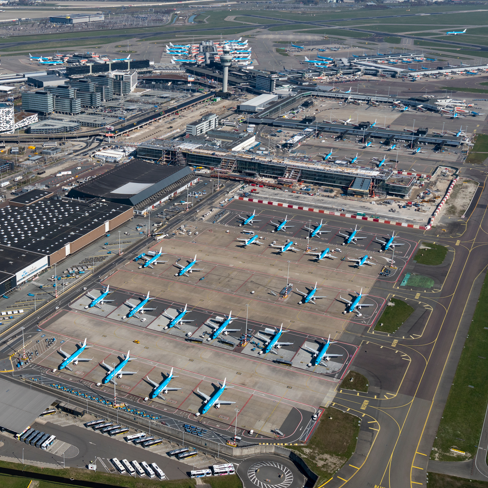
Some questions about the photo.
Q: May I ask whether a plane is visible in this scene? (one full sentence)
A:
Yes, this view includes a plane.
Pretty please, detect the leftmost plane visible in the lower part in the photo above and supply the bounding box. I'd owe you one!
[59,339,95,369]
